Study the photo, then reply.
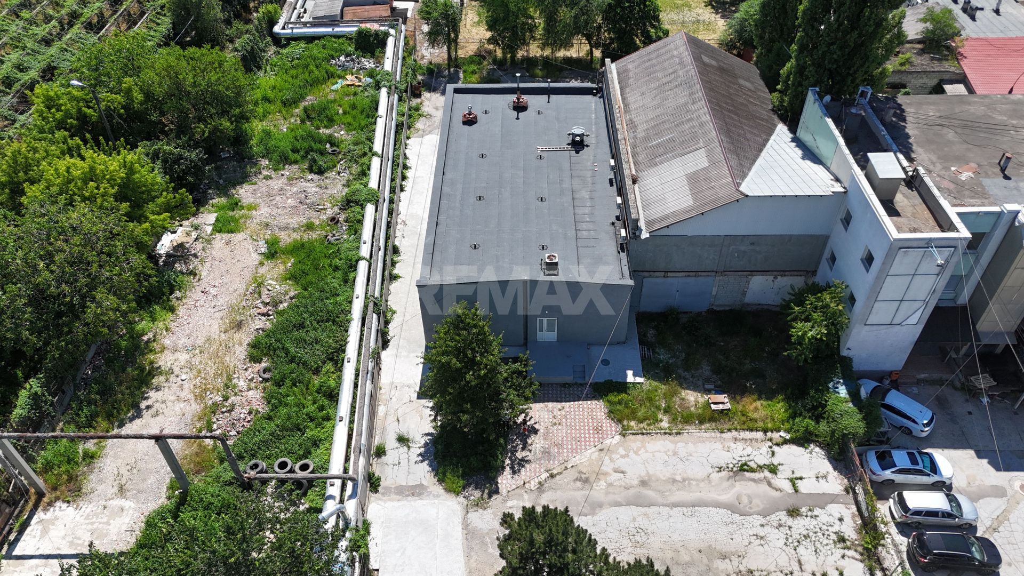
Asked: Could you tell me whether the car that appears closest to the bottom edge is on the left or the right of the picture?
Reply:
right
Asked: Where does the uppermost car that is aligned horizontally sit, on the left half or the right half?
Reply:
right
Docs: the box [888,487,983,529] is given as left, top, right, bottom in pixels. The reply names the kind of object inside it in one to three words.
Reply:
car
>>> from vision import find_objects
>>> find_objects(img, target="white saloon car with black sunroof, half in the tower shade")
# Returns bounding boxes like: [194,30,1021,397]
[864,447,956,487]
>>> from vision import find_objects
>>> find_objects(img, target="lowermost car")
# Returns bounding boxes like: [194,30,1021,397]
[905,529,1003,575]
